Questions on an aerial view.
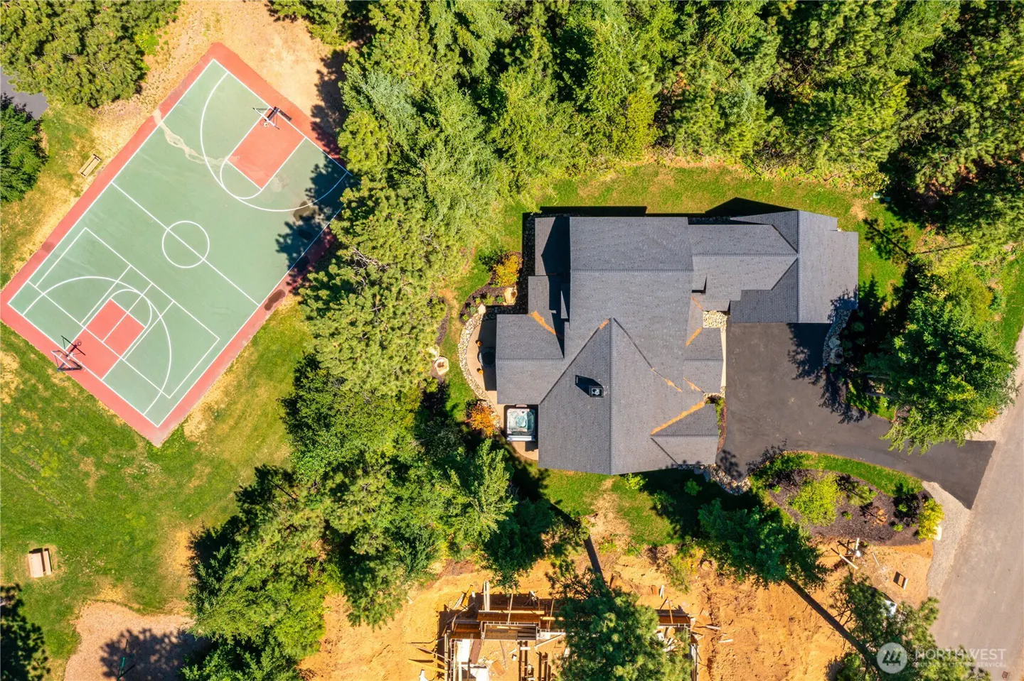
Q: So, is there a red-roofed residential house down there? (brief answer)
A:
No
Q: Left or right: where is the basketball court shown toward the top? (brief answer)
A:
left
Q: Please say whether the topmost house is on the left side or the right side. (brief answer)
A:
right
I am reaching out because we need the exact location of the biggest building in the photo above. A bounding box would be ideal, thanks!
[496,210,858,475]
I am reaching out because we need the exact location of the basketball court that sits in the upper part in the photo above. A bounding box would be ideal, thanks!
[0,42,383,452]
